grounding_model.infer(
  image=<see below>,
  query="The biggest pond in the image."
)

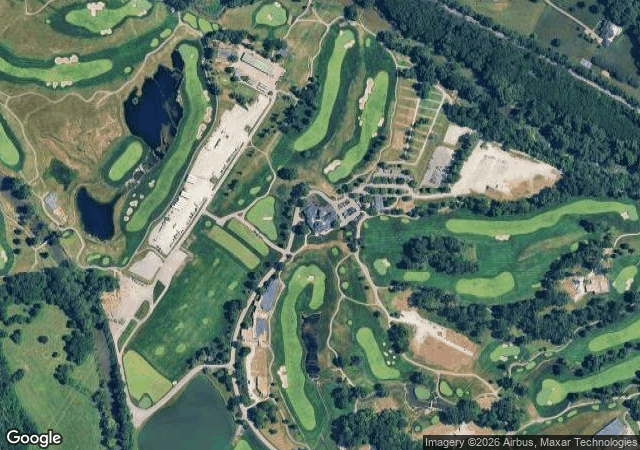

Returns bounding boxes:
[122,49,183,153]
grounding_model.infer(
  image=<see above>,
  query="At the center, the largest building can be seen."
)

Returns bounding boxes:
[306,195,338,235]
